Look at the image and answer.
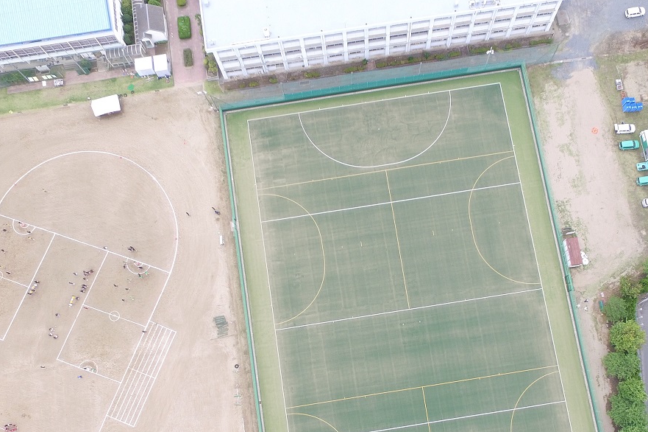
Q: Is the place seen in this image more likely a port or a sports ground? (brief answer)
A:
sports ground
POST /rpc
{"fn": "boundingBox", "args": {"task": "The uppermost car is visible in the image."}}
[626,5,647,17]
